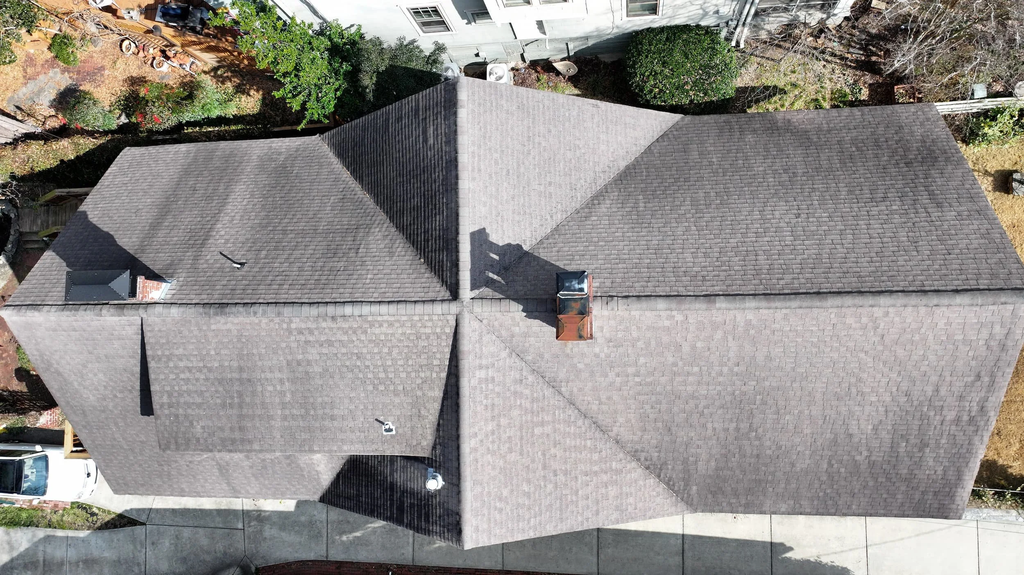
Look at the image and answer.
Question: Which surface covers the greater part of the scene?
buildings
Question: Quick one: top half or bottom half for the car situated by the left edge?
bottom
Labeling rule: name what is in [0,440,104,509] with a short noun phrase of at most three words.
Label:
car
